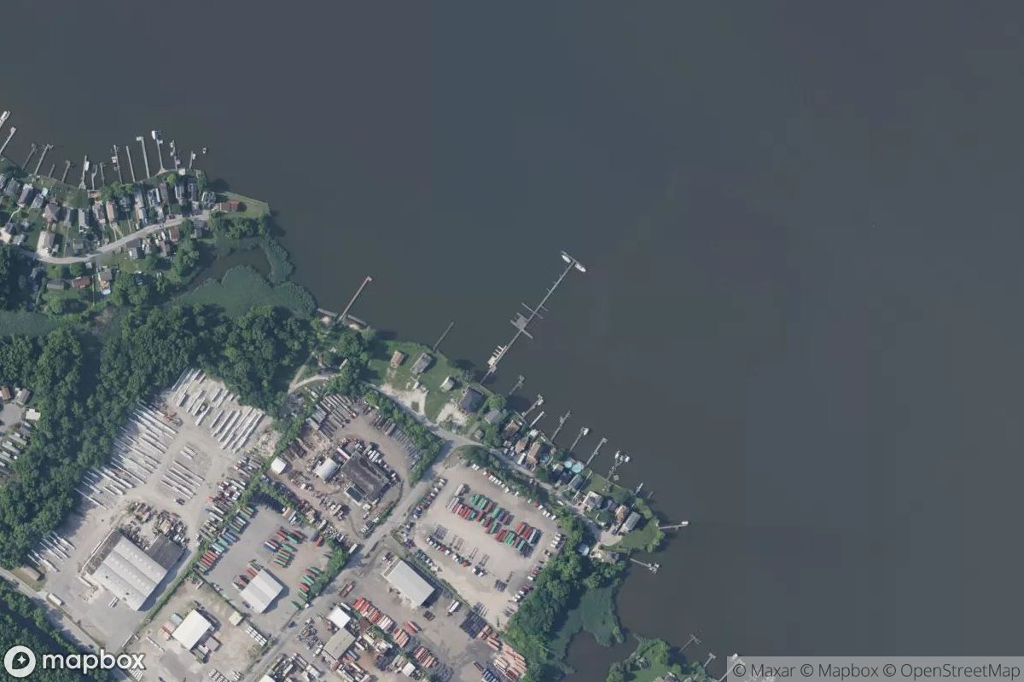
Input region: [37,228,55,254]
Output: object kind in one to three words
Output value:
house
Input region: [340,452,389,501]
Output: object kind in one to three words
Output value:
building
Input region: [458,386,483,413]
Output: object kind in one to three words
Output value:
house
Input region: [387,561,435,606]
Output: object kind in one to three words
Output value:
building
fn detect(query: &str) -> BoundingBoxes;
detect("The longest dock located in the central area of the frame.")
[480,251,579,384]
